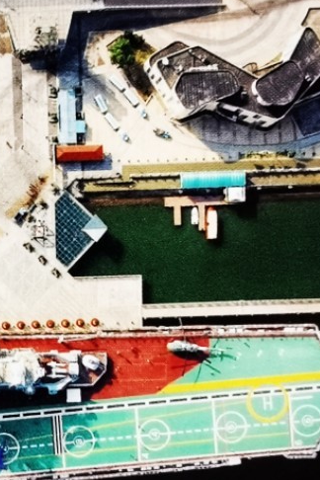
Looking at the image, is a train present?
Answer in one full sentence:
Yes, you can see a train in this photo.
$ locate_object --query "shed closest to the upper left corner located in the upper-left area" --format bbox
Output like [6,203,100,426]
[57,88,85,145]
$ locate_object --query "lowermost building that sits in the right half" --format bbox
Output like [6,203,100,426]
[219,187,246,203]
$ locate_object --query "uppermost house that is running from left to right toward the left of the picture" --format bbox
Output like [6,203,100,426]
[55,145,103,163]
